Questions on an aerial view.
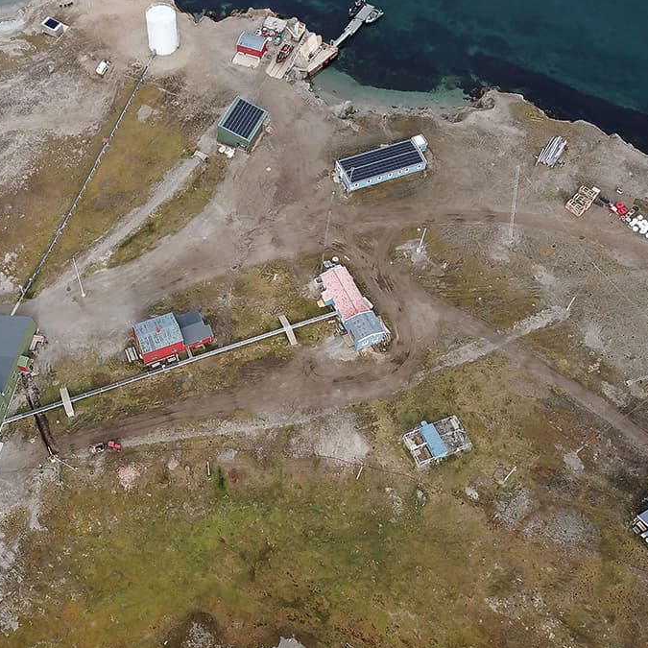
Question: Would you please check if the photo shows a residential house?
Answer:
Yes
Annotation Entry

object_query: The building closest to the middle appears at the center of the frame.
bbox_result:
[315,262,386,351]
